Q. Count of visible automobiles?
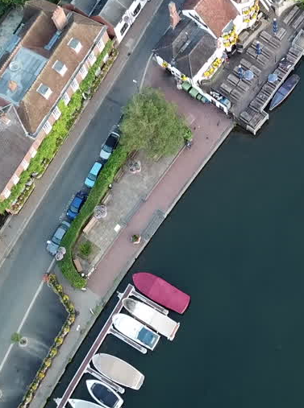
4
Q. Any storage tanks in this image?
No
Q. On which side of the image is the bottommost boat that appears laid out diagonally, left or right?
left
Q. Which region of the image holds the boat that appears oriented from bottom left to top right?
top right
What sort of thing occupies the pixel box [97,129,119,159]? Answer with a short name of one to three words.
car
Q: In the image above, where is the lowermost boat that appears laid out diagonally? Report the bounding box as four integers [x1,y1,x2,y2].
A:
[86,380,125,408]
